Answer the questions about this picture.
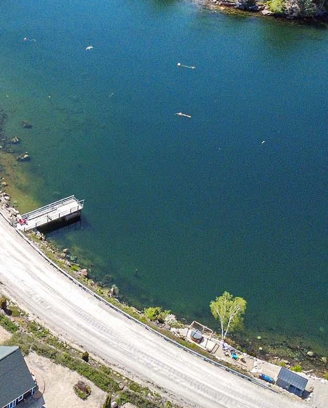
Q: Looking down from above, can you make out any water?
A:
Yes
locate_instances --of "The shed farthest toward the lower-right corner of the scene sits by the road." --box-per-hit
[272,367,302,401]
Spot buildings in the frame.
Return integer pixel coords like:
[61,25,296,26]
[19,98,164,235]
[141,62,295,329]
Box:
[272,367,302,401]
[0,341,37,408]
